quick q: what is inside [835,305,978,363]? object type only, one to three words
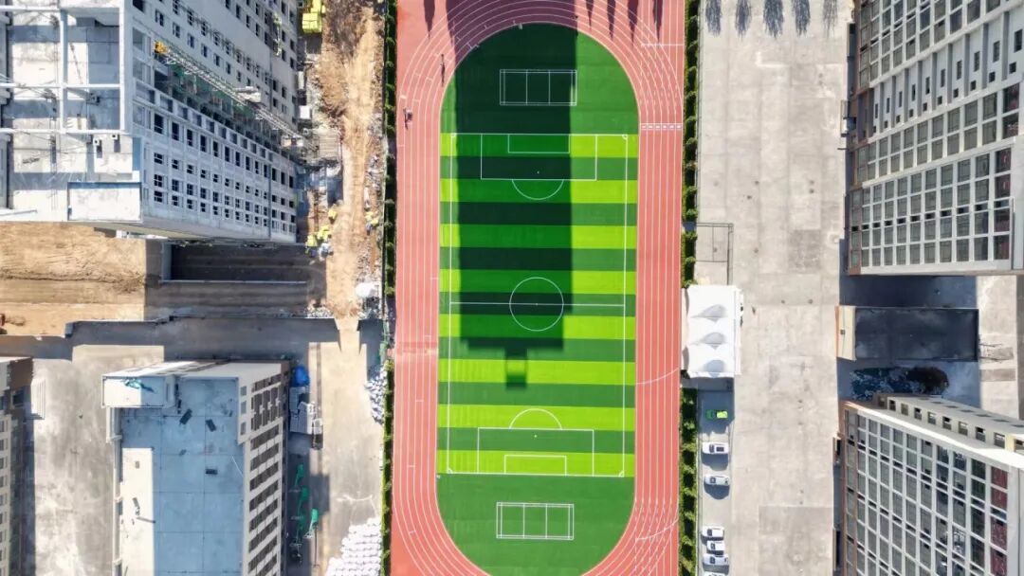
building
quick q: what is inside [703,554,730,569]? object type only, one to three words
car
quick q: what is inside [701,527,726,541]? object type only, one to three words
car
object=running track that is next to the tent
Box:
[391,0,685,576]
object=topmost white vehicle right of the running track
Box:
[701,443,730,457]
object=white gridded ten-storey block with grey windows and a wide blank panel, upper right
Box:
[838,0,1024,279]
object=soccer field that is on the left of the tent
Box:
[437,23,638,576]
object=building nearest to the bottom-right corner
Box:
[831,392,1024,576]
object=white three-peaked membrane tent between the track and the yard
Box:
[679,284,741,378]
